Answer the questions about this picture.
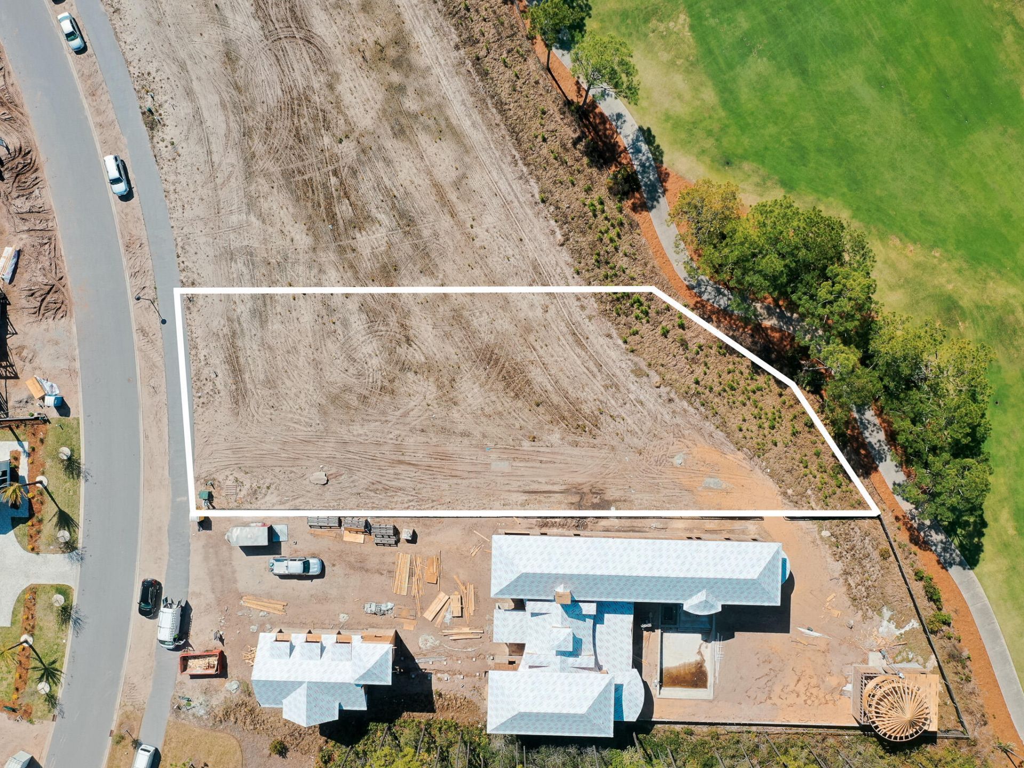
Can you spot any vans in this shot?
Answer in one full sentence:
Yes, the picture does show a van.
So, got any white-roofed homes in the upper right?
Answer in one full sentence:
No, no white-roofed home can be made out in the upper right.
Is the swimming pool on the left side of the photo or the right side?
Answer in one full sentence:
The swimming pool appears in the right half of the scene.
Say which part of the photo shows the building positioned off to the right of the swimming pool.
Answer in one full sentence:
The building positioned off to the right of the swimming pool sits in the bottom right section of the image.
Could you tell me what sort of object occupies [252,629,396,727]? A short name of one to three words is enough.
house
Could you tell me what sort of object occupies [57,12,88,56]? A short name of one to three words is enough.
car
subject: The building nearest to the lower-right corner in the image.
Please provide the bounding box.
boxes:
[854,652,941,742]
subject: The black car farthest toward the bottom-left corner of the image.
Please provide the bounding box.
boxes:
[137,576,163,618]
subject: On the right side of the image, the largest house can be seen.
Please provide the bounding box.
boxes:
[484,530,790,738]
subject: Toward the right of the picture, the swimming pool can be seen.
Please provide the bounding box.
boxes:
[642,602,715,703]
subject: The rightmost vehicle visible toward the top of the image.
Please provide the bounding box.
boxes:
[103,154,133,199]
